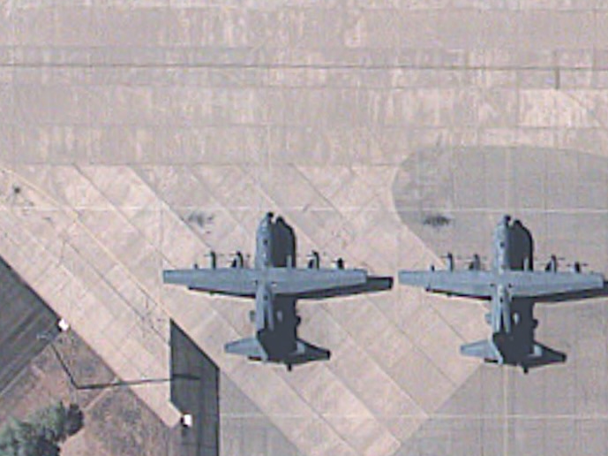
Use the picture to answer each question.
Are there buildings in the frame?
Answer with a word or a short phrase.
No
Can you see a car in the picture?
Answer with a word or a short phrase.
No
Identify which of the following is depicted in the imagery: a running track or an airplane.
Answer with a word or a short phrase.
airplane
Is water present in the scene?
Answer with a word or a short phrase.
No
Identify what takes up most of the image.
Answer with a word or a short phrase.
paved ground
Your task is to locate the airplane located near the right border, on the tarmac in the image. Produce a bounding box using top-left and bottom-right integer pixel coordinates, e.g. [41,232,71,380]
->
[398,214,603,366]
